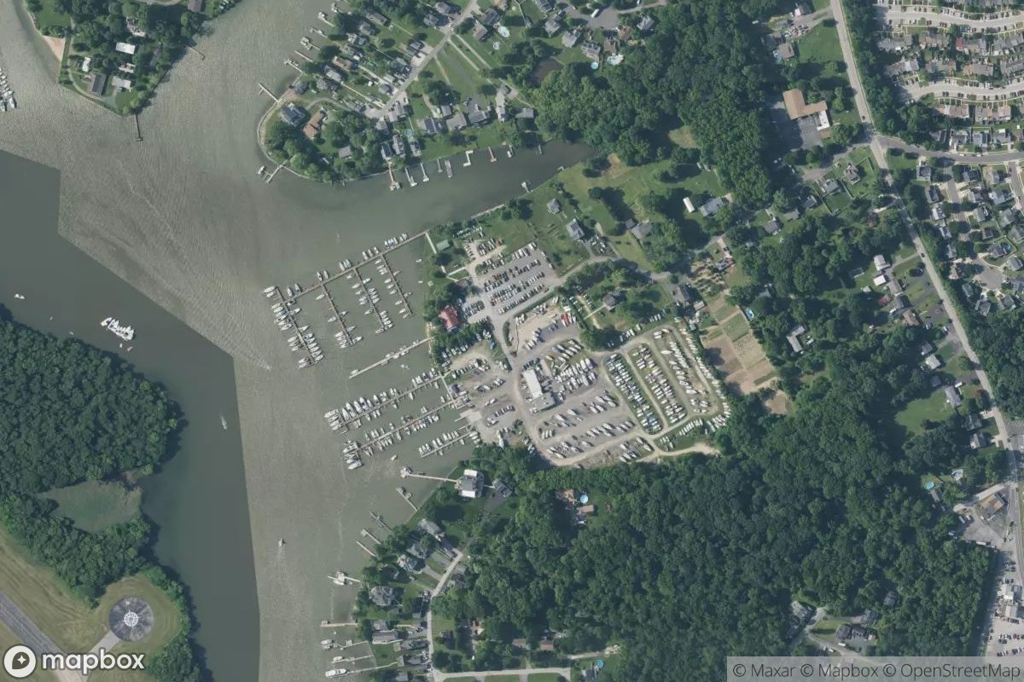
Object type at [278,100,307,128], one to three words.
house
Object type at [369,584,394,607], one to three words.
house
